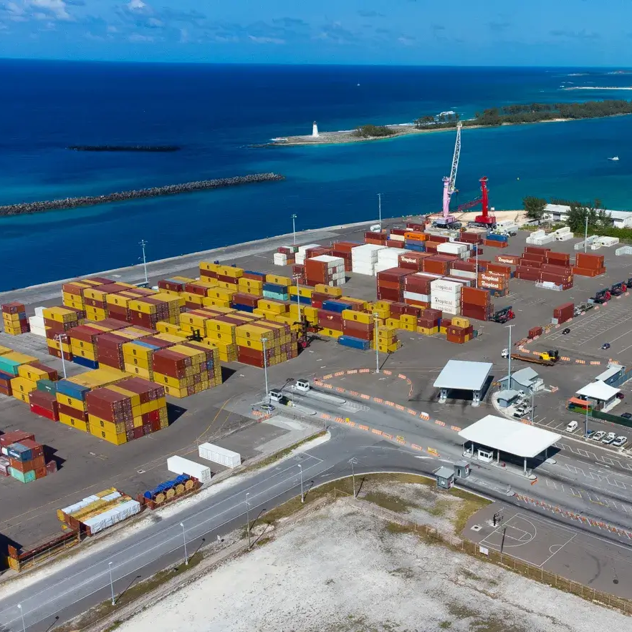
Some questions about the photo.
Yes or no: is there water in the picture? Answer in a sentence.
Yes, water shows up in the scene.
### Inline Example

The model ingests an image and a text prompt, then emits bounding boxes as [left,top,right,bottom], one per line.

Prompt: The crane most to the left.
[430,121,462,228]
